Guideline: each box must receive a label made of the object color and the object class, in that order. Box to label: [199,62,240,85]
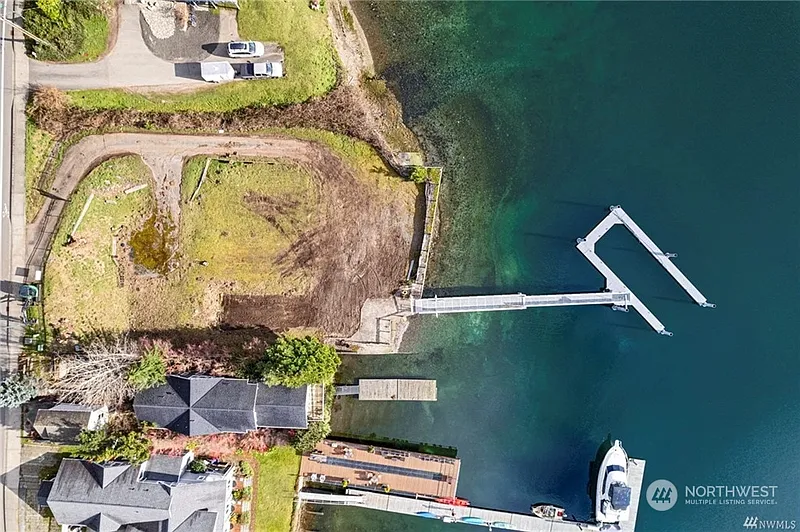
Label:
white trailer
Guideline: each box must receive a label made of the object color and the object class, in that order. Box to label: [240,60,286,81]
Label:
white truck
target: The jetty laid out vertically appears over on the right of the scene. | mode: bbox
[611,457,645,532]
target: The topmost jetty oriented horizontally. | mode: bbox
[412,290,635,318]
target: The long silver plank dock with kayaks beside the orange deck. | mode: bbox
[346,488,612,532]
